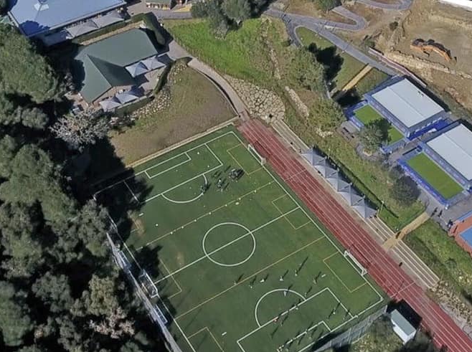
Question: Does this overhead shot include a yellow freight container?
No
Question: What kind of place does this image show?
sports ground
